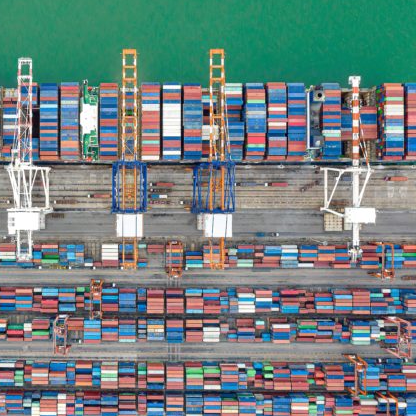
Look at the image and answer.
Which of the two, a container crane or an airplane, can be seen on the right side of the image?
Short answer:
container crane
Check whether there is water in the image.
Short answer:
Yes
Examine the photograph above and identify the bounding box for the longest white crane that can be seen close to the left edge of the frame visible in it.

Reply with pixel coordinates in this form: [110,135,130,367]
[3,56,52,262]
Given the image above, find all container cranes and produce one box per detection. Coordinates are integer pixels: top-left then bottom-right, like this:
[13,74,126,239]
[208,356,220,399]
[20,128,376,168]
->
[307,73,377,263]
[377,313,412,358]
[111,49,148,270]
[163,236,182,276]
[361,239,396,280]
[185,49,235,270]
[336,346,368,395]
[53,311,72,354]
[90,275,107,317]
[3,56,52,262]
